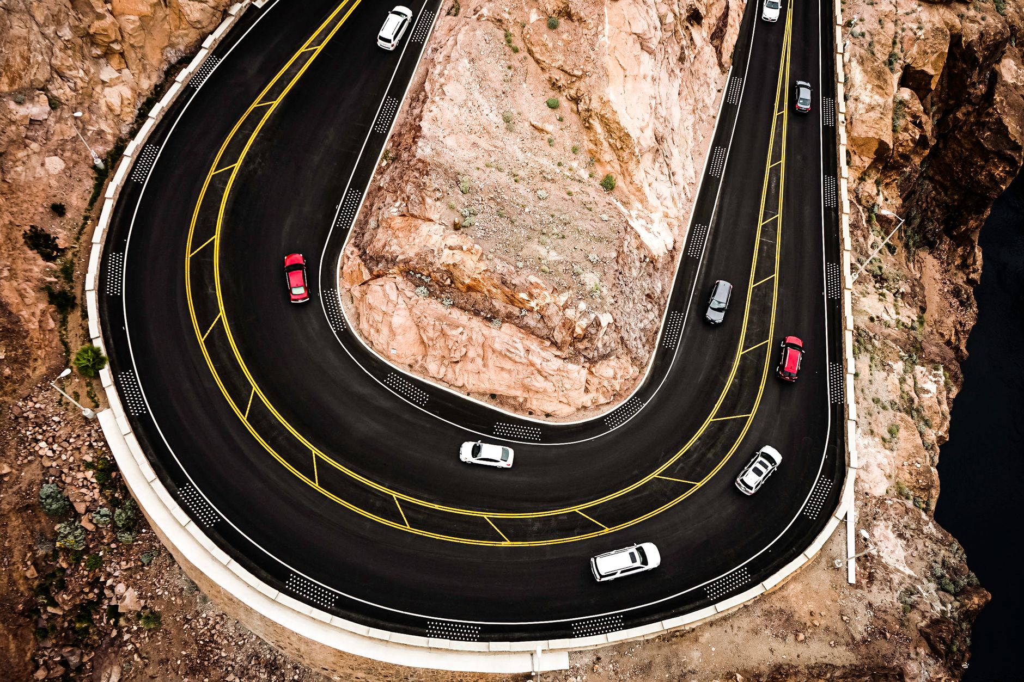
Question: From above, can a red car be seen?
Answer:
Yes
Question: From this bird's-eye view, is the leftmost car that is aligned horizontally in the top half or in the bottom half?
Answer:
bottom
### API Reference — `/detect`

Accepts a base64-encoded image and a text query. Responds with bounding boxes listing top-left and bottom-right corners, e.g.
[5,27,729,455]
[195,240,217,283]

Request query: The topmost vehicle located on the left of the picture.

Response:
[376,7,412,51]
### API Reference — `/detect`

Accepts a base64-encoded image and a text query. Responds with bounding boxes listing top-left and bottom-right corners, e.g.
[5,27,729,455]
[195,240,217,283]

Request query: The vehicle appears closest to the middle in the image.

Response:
[459,440,515,469]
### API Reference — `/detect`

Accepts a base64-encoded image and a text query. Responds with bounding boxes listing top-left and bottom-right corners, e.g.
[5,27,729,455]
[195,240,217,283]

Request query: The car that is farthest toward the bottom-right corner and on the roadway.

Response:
[736,447,781,496]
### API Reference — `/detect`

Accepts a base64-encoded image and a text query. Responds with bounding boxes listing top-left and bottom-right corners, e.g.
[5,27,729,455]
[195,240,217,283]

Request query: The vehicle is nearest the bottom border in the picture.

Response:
[591,544,660,581]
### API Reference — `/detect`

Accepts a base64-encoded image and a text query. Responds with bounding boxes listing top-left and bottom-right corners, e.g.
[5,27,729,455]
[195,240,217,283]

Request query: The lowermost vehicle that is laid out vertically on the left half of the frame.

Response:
[284,255,311,305]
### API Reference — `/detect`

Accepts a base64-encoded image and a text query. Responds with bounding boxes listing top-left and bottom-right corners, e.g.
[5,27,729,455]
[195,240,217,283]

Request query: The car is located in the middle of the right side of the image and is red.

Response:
[777,336,806,382]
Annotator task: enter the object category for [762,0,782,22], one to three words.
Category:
car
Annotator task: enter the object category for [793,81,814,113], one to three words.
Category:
car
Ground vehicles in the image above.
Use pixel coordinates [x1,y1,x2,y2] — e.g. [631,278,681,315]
[459,440,515,469]
[736,447,781,496]
[284,255,311,305]
[762,0,782,22]
[376,7,412,51]
[591,544,660,581]
[777,336,806,382]
[793,81,814,113]
[705,278,733,325]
